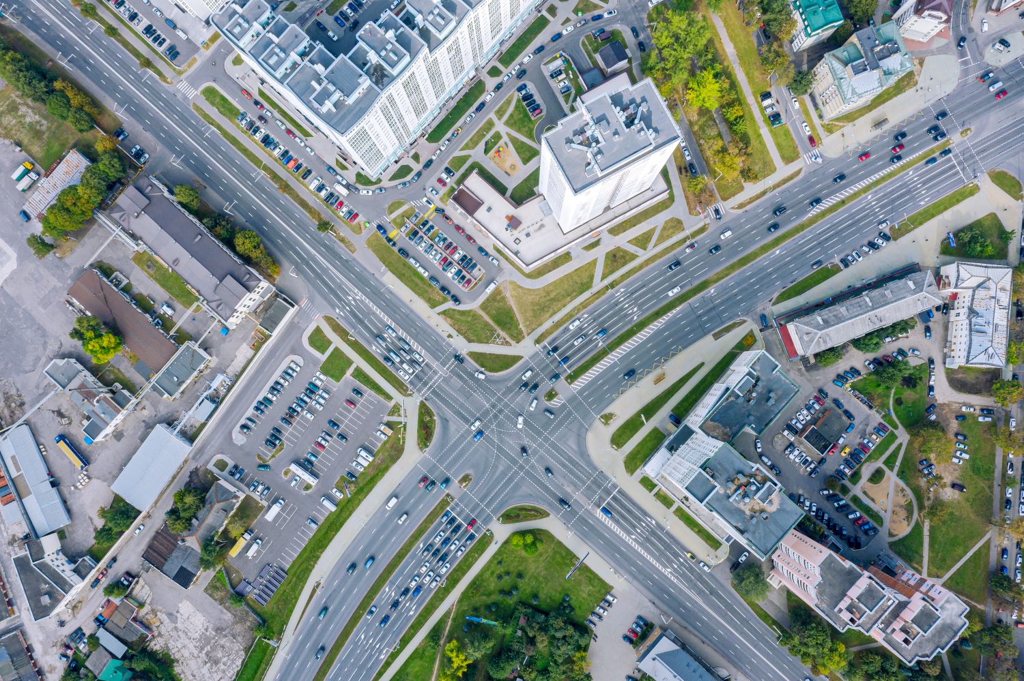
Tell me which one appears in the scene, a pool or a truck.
truck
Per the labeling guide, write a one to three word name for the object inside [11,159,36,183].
truck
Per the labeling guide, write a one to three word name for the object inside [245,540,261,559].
vehicle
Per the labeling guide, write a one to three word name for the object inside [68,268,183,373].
building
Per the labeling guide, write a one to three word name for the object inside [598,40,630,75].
house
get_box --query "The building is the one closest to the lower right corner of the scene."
[764,529,971,667]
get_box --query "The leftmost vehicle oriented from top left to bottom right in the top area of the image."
[17,209,30,223]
